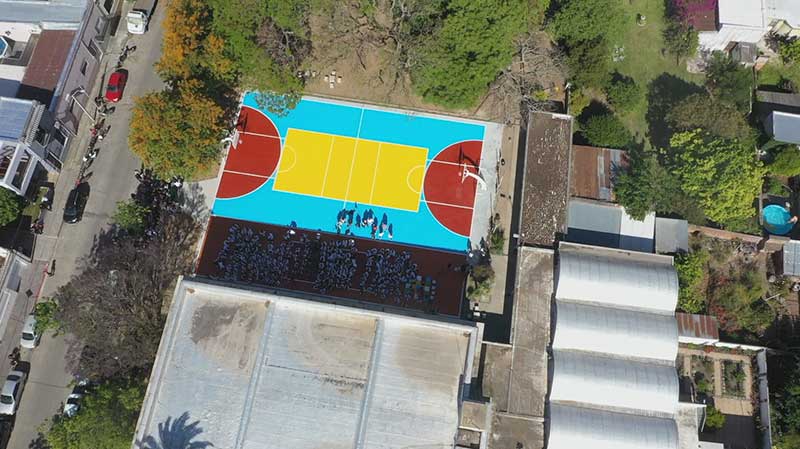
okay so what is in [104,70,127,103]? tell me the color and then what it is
red car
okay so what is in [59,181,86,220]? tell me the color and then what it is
black car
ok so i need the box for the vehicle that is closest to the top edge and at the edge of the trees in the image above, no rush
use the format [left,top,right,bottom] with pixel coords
[129,0,155,32]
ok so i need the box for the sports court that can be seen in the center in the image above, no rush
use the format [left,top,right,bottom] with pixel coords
[196,94,484,313]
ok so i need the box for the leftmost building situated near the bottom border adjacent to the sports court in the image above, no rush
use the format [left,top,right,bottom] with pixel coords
[134,276,477,449]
